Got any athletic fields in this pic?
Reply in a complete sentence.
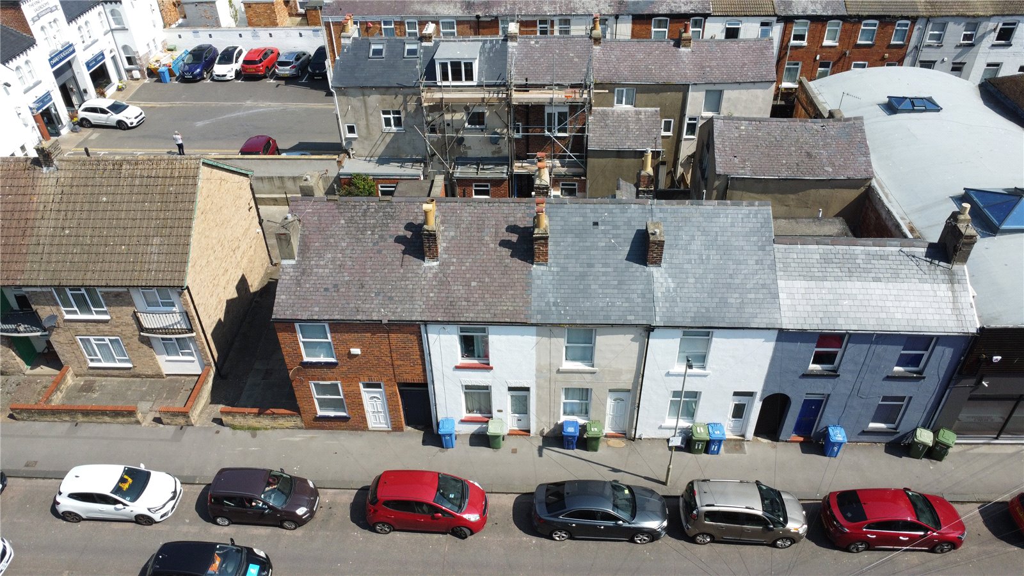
No, I can't see a single athletic field in this photo.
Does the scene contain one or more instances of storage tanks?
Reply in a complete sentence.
No, there isn't any storage tank down there.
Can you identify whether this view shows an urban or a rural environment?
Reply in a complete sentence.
The land in this view is best described as urban.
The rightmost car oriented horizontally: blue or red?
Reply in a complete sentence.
The rightmost car oriented horizontally looks red in the image.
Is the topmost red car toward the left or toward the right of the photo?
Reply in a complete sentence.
The topmost red car appears in the left half of the scene.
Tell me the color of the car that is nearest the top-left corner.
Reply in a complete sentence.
The car that is nearest the top-left corner is white.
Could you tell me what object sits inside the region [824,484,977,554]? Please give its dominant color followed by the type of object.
red car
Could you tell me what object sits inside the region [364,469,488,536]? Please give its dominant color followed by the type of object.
red car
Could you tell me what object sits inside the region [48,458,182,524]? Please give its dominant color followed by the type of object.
white car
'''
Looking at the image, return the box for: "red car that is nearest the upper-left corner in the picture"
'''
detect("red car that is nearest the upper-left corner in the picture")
[244,48,281,77]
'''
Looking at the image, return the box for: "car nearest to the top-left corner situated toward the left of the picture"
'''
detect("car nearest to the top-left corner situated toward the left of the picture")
[76,97,144,130]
